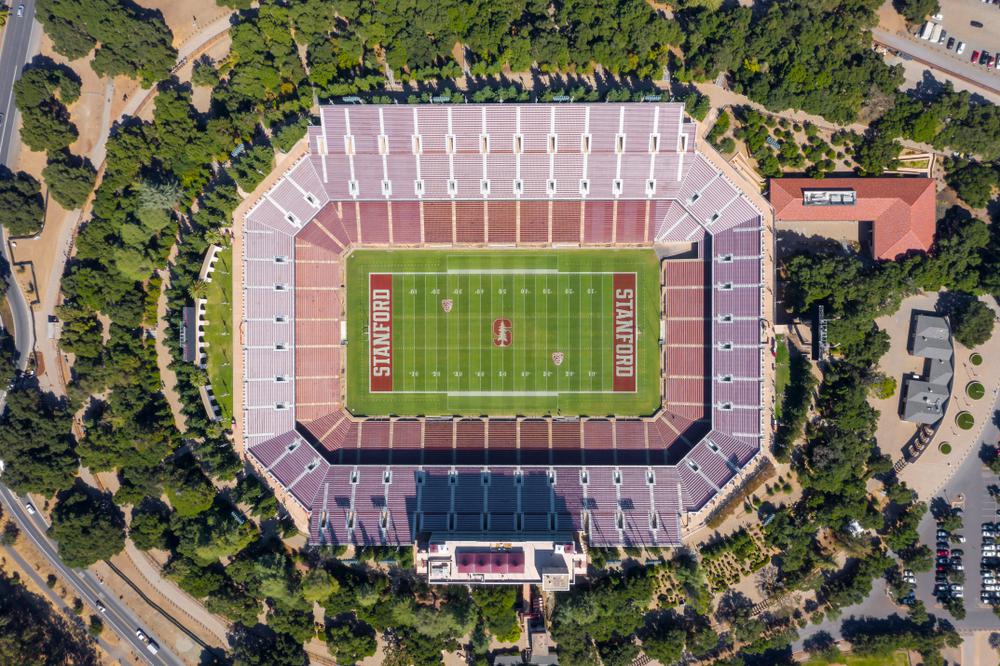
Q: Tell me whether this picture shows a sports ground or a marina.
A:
sports ground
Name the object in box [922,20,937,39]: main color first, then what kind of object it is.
white vehicle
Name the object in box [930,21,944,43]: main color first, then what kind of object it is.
white vehicle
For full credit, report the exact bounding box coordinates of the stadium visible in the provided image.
[231,103,777,547]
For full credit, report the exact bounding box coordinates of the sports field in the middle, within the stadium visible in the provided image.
[347,249,660,415]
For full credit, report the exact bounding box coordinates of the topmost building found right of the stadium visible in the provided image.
[768,178,936,260]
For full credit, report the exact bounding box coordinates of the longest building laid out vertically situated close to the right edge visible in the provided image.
[899,315,959,465]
